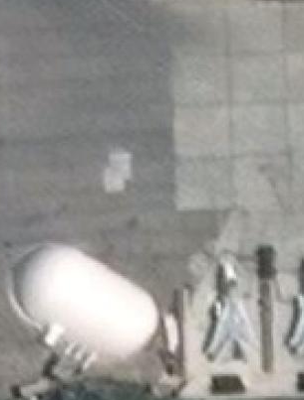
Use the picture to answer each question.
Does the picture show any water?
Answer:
No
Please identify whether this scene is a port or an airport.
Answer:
airport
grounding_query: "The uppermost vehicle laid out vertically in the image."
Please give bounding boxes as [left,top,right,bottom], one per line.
[259,247,273,280]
